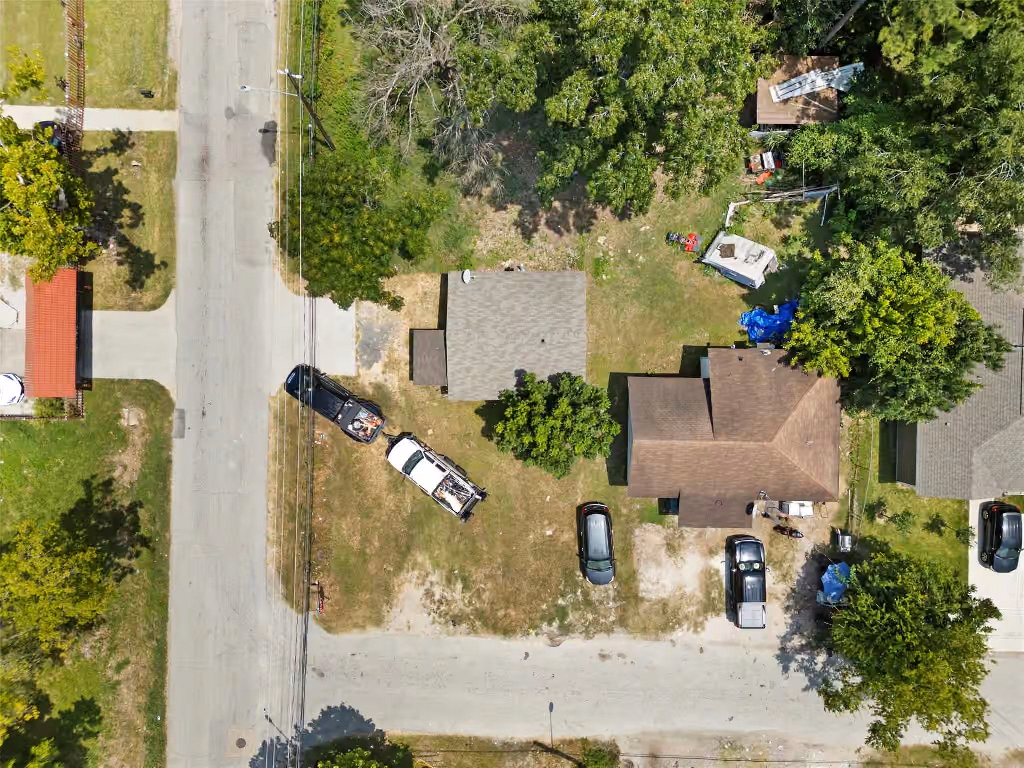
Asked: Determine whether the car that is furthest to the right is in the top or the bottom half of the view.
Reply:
bottom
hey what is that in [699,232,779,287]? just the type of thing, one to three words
vehicle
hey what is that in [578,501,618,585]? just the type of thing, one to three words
car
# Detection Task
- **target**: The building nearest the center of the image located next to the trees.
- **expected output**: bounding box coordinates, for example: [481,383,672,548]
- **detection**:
[410,272,589,400]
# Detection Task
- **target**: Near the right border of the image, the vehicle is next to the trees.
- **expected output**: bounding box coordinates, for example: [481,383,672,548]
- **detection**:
[981,500,1024,572]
